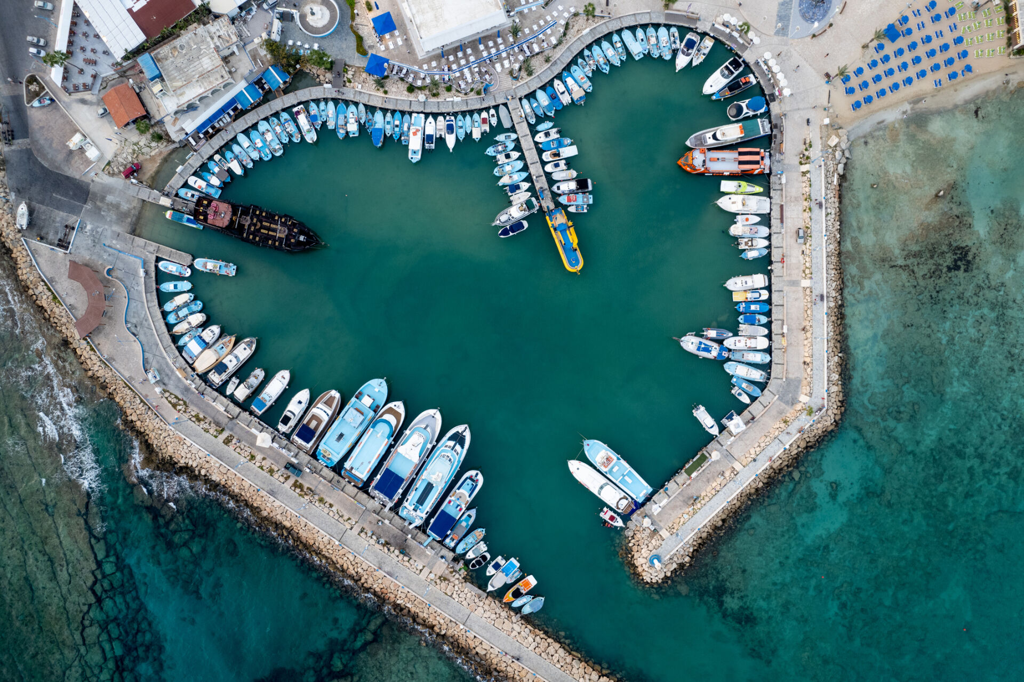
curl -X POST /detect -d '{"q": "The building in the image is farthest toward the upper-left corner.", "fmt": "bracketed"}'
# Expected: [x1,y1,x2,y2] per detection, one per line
[82,0,147,65]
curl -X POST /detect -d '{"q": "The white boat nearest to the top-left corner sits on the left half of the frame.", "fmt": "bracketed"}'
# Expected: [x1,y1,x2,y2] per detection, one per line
[66,133,86,151]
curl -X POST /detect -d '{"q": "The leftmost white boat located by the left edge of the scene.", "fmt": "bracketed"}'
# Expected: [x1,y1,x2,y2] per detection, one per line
[17,200,30,228]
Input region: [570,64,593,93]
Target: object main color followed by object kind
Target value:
blue boat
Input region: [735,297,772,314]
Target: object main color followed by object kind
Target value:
blue boat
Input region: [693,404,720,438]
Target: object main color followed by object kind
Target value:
white boat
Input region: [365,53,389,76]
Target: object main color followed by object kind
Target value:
blue tent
